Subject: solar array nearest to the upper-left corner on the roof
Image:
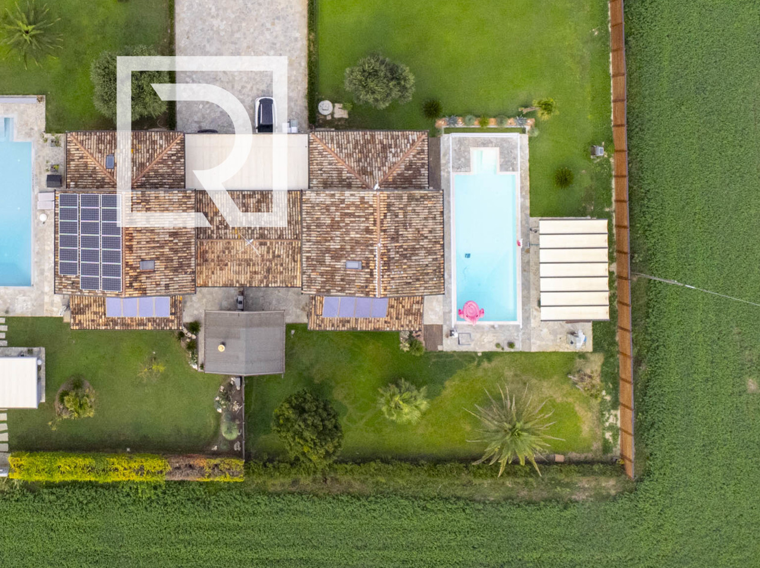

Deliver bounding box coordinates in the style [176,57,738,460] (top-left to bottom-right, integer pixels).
[58,194,121,290]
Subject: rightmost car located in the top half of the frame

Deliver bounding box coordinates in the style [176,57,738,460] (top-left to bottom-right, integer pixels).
[254,99,275,134]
